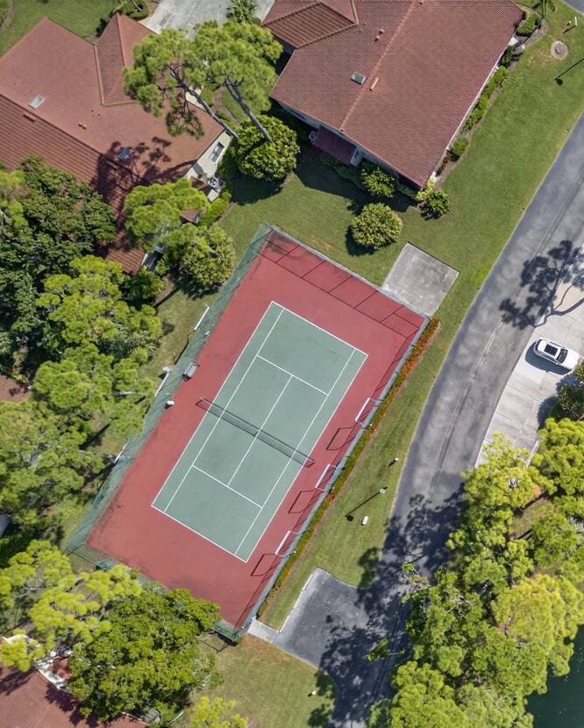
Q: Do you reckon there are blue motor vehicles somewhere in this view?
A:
No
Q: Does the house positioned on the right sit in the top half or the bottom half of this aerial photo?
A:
top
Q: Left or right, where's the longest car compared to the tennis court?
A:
to its right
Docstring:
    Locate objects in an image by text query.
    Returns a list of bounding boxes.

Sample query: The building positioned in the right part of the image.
[262,0,525,190]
